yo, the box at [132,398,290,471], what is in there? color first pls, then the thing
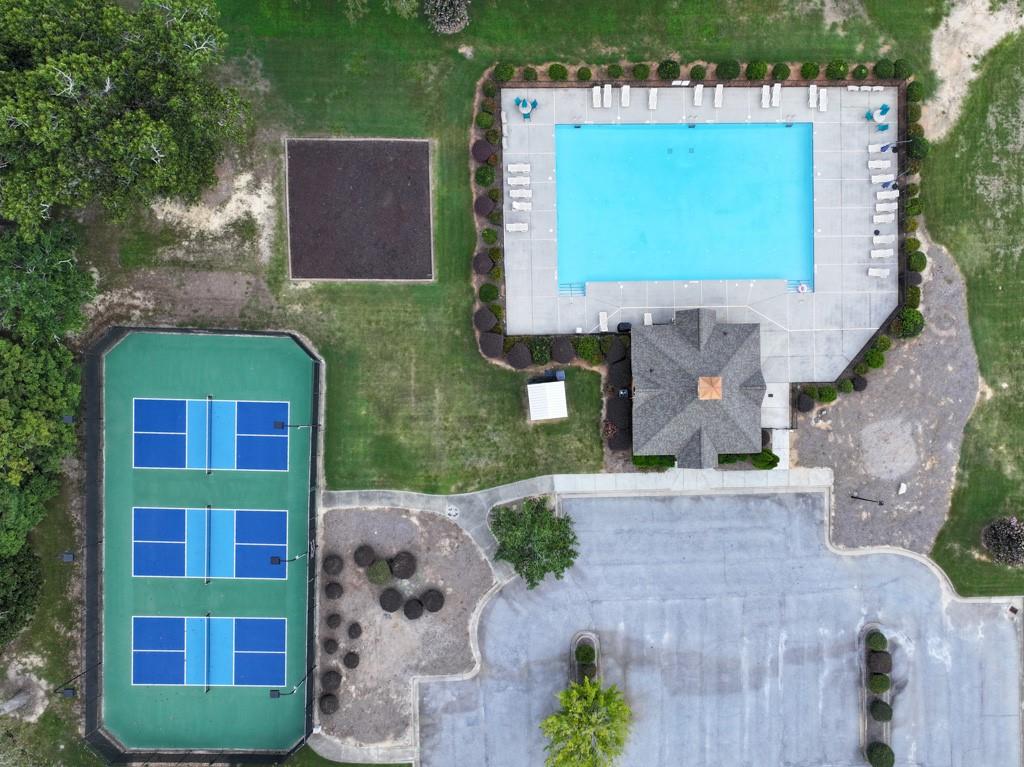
blue sports court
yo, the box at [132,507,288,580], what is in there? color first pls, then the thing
blue sports court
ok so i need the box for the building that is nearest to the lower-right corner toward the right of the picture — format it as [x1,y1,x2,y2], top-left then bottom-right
[631,307,768,469]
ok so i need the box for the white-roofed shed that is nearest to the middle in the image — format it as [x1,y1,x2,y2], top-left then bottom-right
[527,380,568,420]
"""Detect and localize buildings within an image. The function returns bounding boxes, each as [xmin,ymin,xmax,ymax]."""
[631,307,768,469]
[527,380,568,420]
